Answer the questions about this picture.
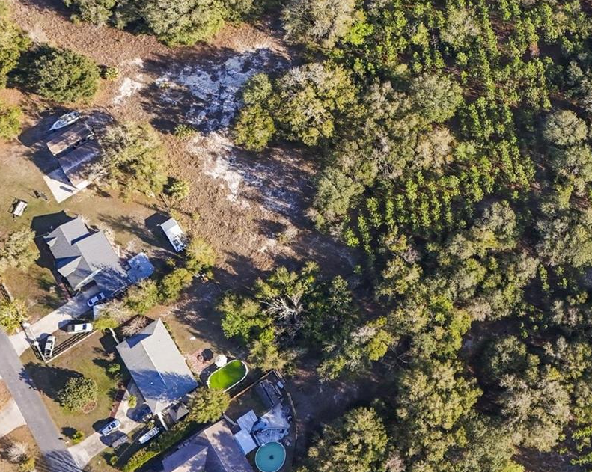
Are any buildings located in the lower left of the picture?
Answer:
Yes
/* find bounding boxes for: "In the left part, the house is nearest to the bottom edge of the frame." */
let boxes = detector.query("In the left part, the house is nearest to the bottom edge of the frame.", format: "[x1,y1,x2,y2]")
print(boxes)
[146,419,257,472]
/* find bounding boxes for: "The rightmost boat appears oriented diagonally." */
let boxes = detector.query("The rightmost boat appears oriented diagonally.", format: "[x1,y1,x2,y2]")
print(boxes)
[139,428,160,442]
